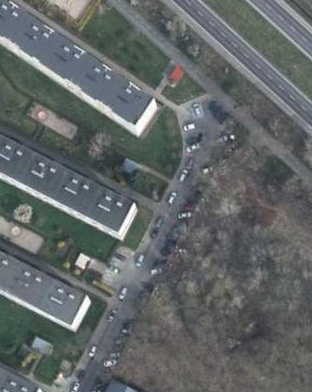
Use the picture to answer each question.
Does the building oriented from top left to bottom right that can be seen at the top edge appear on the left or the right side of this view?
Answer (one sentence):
The building oriented from top left to bottom right that can be seen at the top edge is on the left side of the image.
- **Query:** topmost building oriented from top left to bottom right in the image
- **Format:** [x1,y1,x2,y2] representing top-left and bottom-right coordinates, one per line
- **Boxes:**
[0,0,154,135]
